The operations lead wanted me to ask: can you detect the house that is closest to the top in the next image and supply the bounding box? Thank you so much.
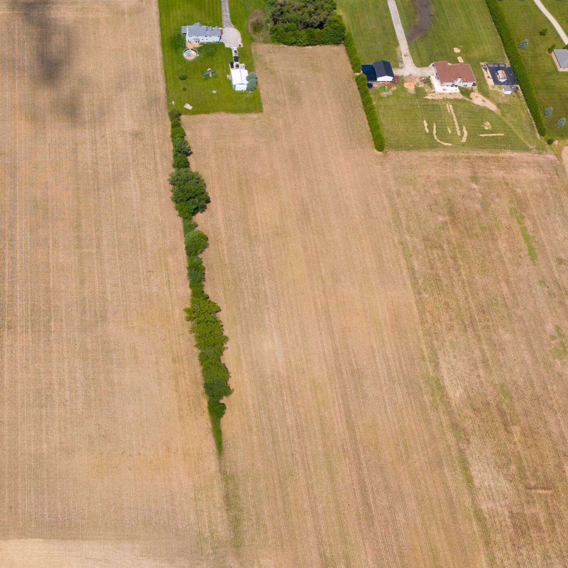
[182,19,222,47]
